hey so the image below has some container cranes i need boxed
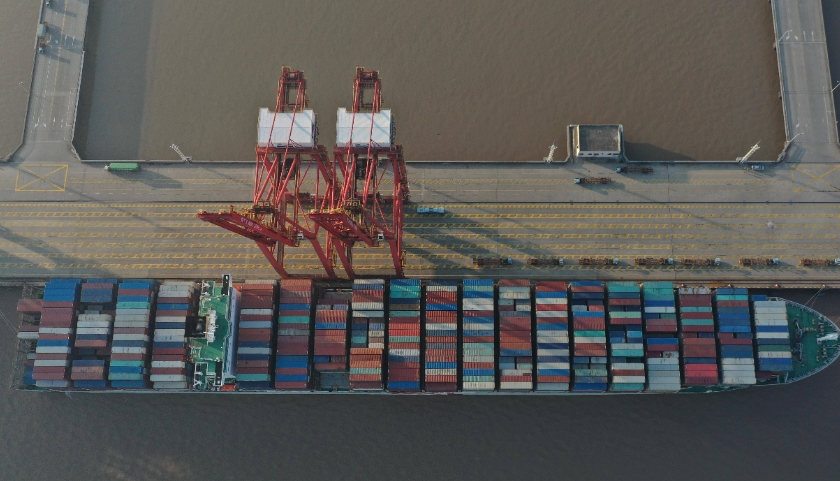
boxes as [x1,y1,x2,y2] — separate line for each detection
[305,69,410,278]
[196,68,340,278]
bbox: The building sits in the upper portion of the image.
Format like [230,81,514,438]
[561,122,631,161]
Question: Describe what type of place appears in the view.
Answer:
port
